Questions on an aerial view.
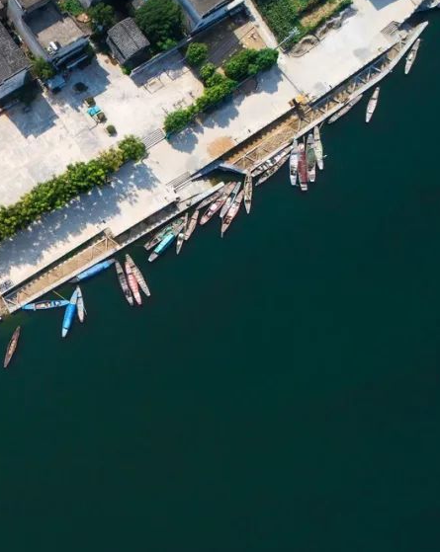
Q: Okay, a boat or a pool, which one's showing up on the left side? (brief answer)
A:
boat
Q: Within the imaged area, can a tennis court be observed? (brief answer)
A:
No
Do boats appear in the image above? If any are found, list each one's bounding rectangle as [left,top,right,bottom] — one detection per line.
[245,172,251,212]
[149,222,186,261]
[221,192,243,233]
[220,183,241,217]
[176,234,185,254]
[201,183,233,224]
[22,303,69,310]
[291,139,298,185]
[255,153,291,185]
[63,288,78,337]
[146,216,187,248]
[186,211,198,239]
[78,286,83,322]
[127,255,150,295]
[366,87,380,121]
[405,39,420,73]
[328,94,363,122]
[125,260,142,304]
[69,259,116,282]
[307,133,315,182]
[315,125,323,168]
[252,144,294,174]
[116,263,132,305]
[298,142,307,189]
[4,328,20,367]
[197,189,224,209]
